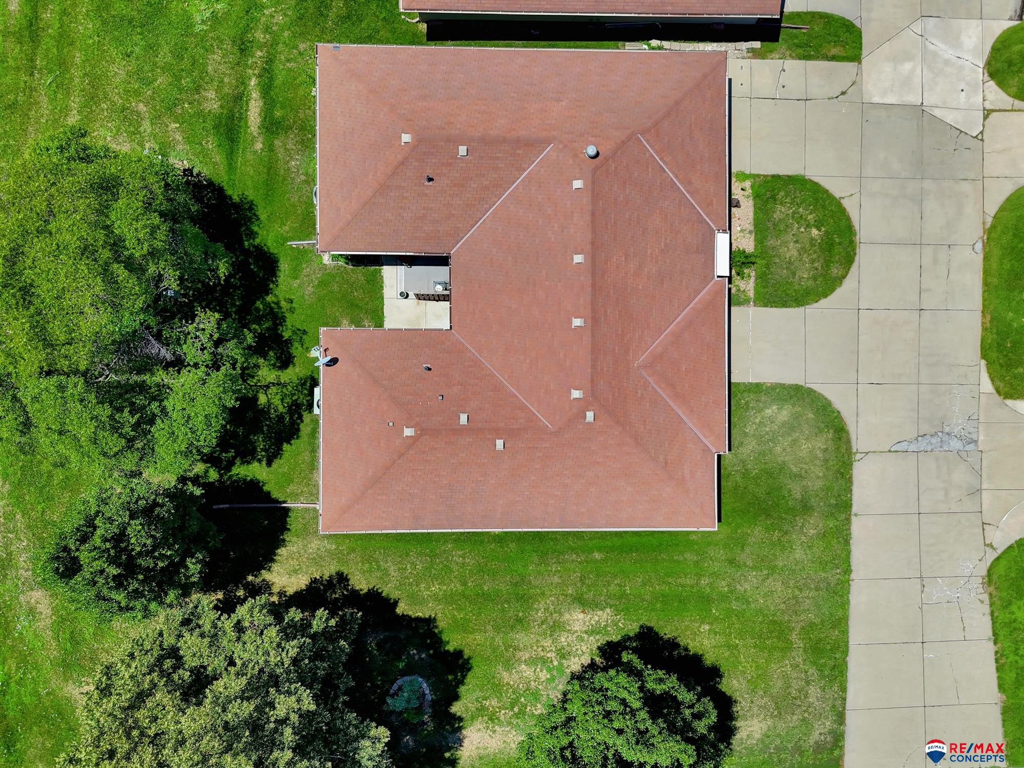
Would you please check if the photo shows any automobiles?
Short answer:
No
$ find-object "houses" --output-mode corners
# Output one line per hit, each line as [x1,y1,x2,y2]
[399,0,781,26]
[316,44,728,534]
